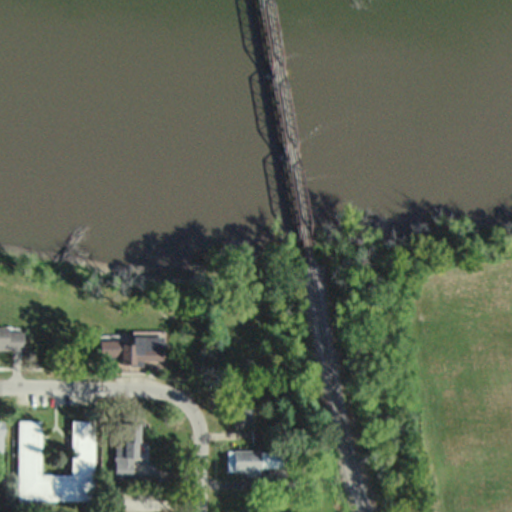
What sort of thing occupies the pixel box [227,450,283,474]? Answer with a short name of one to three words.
house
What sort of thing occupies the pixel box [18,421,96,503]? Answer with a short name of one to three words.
building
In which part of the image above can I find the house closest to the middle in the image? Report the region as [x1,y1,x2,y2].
[101,331,167,366]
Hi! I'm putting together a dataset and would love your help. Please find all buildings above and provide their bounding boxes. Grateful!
[227,450,283,474]
[116,412,142,476]
[101,331,167,366]
[18,421,96,503]
[0,326,26,356]
[0,422,6,456]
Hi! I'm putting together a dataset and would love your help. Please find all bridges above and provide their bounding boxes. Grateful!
[258,0,320,251]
